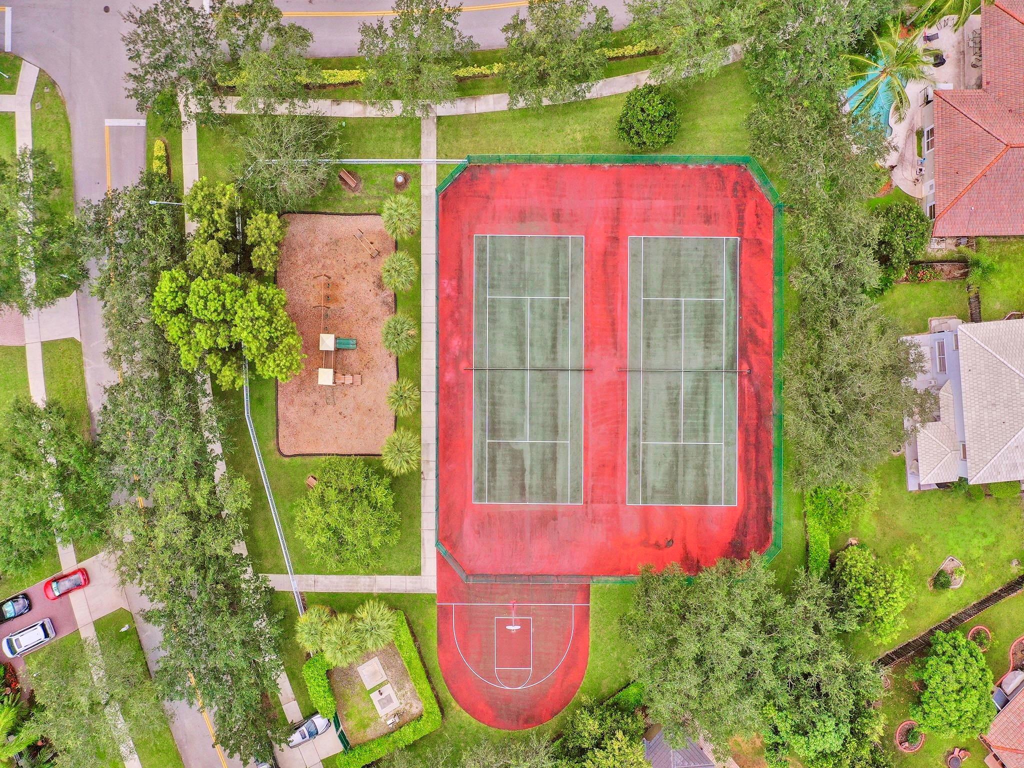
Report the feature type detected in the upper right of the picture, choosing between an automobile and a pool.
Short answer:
pool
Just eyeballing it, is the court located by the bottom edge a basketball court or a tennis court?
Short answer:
basketball court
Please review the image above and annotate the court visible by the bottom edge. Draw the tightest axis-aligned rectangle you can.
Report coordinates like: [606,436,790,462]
[437,549,591,731]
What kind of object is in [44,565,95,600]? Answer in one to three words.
car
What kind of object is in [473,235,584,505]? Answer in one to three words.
tennis court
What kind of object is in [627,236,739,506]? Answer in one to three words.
tennis court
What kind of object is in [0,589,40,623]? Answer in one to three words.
car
